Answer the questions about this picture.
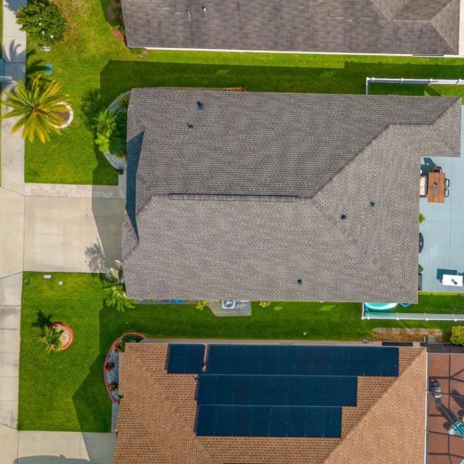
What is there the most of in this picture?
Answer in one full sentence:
The largest share of the image is taken up by buildings.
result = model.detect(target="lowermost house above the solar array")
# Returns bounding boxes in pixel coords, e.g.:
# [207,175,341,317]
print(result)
[121,89,463,304]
